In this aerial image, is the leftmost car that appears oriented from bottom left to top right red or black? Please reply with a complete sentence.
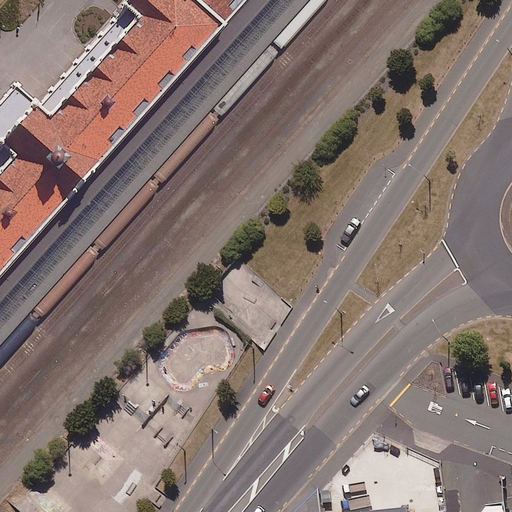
The leftmost car that appears oriented from bottom left to top right is red.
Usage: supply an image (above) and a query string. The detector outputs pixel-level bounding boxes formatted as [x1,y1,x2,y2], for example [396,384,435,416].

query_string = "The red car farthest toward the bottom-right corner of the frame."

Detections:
[487,381,500,408]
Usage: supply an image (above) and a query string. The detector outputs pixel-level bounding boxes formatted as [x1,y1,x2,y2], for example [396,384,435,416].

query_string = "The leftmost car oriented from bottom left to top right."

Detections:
[256,382,276,406]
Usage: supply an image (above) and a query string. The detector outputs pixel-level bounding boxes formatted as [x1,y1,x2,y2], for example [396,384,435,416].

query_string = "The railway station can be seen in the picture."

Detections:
[0,0,311,348]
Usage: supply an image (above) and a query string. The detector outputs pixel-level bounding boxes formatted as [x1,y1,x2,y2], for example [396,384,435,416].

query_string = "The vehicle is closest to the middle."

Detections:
[338,217,362,246]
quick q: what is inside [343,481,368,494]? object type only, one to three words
vehicle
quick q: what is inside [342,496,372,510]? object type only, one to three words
vehicle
